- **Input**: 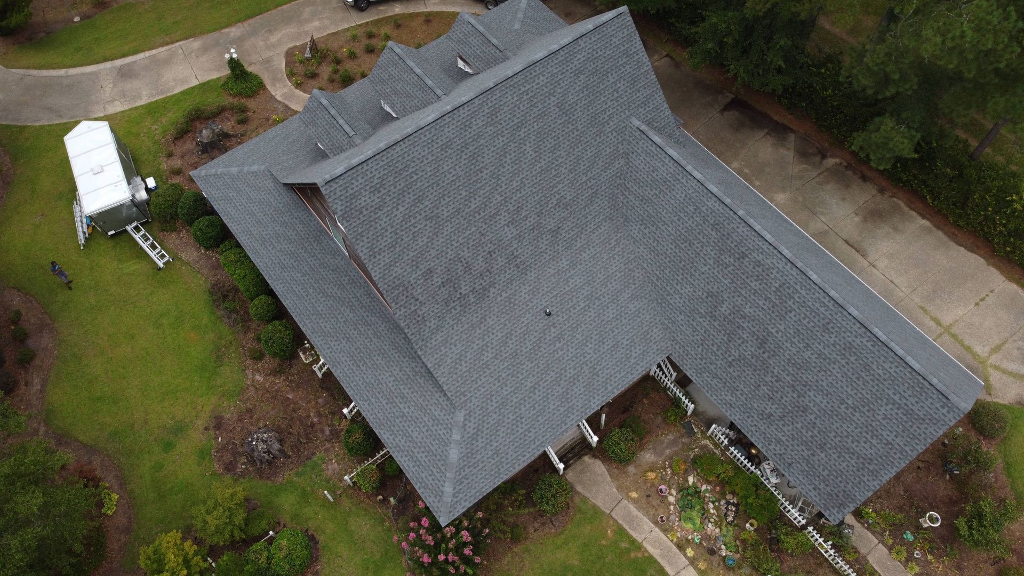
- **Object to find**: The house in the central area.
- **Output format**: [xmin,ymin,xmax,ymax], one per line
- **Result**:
[188,0,984,528]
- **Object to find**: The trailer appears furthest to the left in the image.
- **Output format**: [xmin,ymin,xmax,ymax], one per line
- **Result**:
[63,121,153,241]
